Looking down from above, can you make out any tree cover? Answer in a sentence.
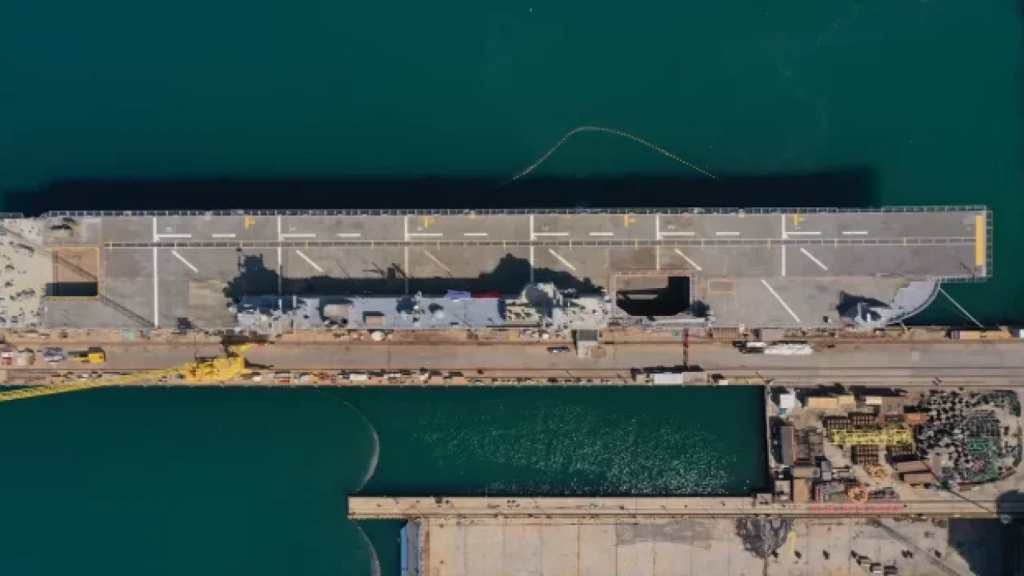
No, no tree cover is visible.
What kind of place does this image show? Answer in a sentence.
This looks like a port.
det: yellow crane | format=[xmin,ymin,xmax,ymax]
[0,341,262,405]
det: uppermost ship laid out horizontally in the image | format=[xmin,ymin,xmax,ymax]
[0,205,991,334]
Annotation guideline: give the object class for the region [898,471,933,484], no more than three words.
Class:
shed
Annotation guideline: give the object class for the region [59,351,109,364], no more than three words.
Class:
vehicle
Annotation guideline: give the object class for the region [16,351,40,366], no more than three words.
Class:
vehicle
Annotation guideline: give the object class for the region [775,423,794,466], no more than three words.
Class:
shed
